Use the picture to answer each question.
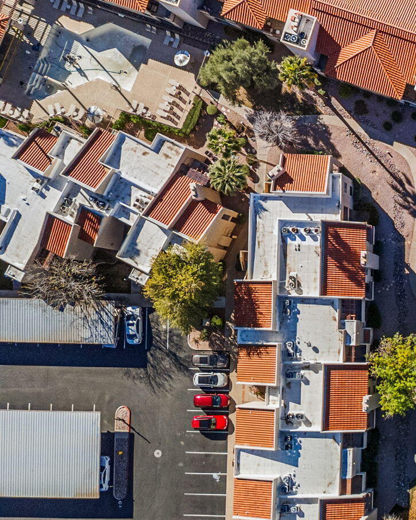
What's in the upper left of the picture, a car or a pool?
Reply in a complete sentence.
The feature located in the upper left of the picture is a pool.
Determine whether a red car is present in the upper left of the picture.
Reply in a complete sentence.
No, there is no red car in the upper left of the picture.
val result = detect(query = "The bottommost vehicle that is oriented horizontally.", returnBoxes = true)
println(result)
[189,415,227,432]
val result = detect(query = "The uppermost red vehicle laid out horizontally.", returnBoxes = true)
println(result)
[190,393,229,410]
